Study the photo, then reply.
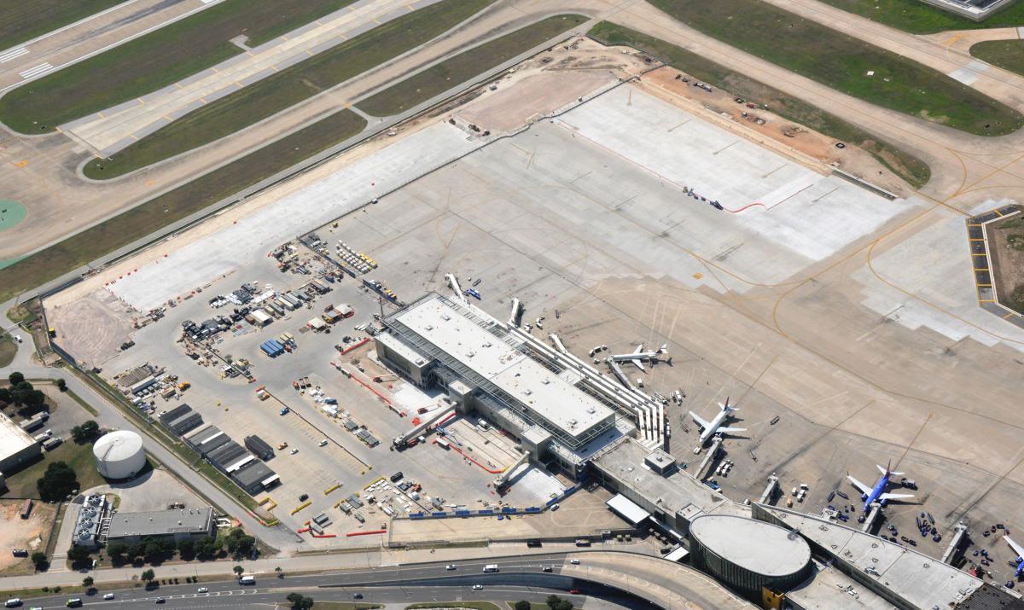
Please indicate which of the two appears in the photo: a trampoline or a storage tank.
storage tank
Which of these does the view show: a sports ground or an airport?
airport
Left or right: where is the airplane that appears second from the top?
right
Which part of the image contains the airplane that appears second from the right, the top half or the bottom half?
bottom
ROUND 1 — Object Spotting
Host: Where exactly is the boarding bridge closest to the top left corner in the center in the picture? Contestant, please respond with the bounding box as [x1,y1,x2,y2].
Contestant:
[445,275,471,307]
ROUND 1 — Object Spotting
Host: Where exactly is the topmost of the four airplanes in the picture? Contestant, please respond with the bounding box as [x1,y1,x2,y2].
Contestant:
[604,337,669,368]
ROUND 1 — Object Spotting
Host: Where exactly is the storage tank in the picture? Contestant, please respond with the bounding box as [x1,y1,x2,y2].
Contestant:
[92,429,146,481]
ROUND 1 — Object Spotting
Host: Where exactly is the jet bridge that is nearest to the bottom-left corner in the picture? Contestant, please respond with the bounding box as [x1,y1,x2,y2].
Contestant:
[394,400,460,448]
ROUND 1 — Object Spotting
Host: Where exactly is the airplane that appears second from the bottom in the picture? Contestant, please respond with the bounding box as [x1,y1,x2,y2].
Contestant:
[848,460,916,512]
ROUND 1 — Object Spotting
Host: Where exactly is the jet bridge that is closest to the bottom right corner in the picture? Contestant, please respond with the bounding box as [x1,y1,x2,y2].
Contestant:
[939,526,968,566]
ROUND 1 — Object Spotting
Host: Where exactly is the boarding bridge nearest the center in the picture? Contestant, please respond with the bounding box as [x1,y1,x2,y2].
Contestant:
[506,299,521,325]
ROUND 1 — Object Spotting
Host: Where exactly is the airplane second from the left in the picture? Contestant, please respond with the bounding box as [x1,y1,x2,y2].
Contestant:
[690,394,749,443]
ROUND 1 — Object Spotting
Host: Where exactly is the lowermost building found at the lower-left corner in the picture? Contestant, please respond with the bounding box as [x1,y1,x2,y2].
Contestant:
[108,507,217,544]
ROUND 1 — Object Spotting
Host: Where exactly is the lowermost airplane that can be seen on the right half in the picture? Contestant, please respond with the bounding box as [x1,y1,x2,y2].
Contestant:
[998,529,1024,576]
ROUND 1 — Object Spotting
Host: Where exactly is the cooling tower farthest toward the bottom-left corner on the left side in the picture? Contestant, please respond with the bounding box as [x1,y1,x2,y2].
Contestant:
[71,495,109,551]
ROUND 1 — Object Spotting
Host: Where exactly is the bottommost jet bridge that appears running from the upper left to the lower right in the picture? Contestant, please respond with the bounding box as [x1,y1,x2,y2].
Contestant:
[605,359,633,391]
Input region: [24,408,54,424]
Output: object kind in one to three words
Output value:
vehicle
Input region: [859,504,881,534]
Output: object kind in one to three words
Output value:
jet bridge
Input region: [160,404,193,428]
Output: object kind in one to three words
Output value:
building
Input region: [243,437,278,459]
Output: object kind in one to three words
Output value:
building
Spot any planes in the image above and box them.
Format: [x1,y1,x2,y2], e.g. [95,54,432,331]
[604,337,669,368]
[848,460,916,512]
[998,529,1024,576]
[690,394,749,443]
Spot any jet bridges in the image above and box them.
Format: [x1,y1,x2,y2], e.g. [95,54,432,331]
[394,400,460,448]
[494,450,531,487]
[692,440,720,480]
[549,332,568,355]
[939,526,968,566]
[859,504,881,534]
[756,476,778,505]
[605,359,633,391]
[506,299,521,325]
[445,275,471,307]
